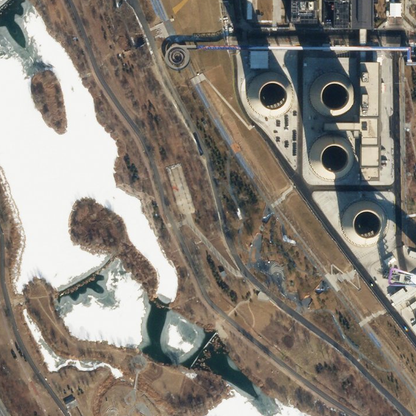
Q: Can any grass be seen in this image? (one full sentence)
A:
Yes, the picture does contain grass.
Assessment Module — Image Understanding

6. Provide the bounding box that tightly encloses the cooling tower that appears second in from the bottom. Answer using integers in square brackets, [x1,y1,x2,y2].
[308,134,358,183]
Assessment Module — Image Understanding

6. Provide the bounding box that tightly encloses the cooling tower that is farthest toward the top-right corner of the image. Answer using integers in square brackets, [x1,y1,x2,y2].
[307,71,357,120]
